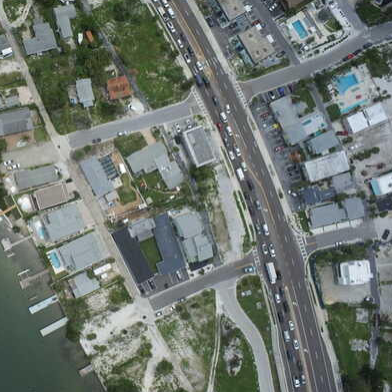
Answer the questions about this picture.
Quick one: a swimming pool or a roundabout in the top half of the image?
swimming pool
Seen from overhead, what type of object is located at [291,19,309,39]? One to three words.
swimming pool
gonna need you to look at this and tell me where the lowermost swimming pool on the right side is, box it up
[340,99,368,114]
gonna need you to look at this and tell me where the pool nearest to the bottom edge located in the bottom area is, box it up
[47,250,65,274]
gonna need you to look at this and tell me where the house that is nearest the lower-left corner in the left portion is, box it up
[69,272,100,297]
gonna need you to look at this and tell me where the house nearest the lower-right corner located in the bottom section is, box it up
[331,259,374,286]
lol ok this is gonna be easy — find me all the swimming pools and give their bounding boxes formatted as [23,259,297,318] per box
[47,250,65,274]
[340,99,368,114]
[32,218,49,244]
[330,65,378,114]
[291,19,309,39]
